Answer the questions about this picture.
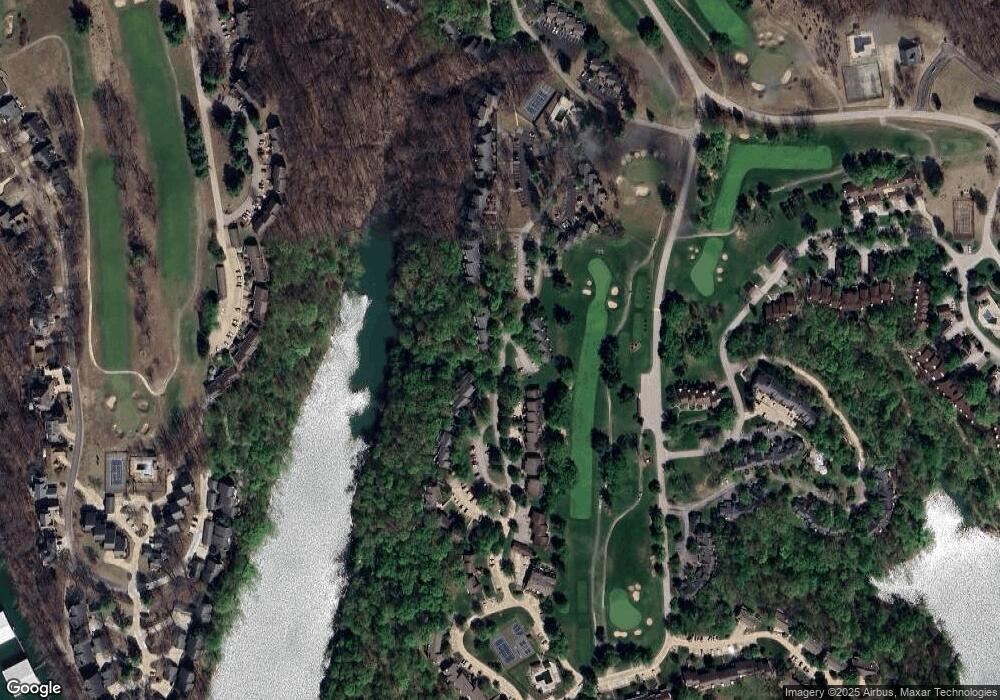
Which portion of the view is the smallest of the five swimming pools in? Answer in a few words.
top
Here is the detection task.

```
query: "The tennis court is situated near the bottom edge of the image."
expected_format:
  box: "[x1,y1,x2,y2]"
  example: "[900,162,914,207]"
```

[490,620,535,671]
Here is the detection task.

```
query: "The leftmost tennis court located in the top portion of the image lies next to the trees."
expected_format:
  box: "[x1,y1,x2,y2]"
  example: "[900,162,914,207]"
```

[520,85,558,125]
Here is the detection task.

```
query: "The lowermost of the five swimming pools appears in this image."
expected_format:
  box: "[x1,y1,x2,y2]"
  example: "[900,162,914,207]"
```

[530,660,561,692]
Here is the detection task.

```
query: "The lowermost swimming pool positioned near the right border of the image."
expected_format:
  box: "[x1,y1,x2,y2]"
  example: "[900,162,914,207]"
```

[979,294,1000,329]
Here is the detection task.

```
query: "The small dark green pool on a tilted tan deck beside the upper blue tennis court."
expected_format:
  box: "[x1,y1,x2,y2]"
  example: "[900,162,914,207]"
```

[551,97,573,124]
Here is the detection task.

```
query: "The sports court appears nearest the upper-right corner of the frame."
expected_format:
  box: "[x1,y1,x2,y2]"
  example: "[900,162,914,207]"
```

[842,61,885,103]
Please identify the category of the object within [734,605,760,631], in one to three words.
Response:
house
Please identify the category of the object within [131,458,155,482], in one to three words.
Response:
swimming pool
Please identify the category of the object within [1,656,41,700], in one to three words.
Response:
pier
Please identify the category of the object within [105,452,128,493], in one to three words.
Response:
tennis court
